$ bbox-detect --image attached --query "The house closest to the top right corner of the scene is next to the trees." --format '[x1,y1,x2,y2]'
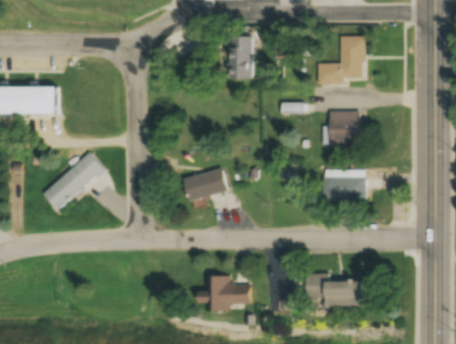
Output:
[318,36,368,86]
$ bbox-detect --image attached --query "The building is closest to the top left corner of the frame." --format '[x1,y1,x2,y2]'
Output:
[0,82,63,116]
